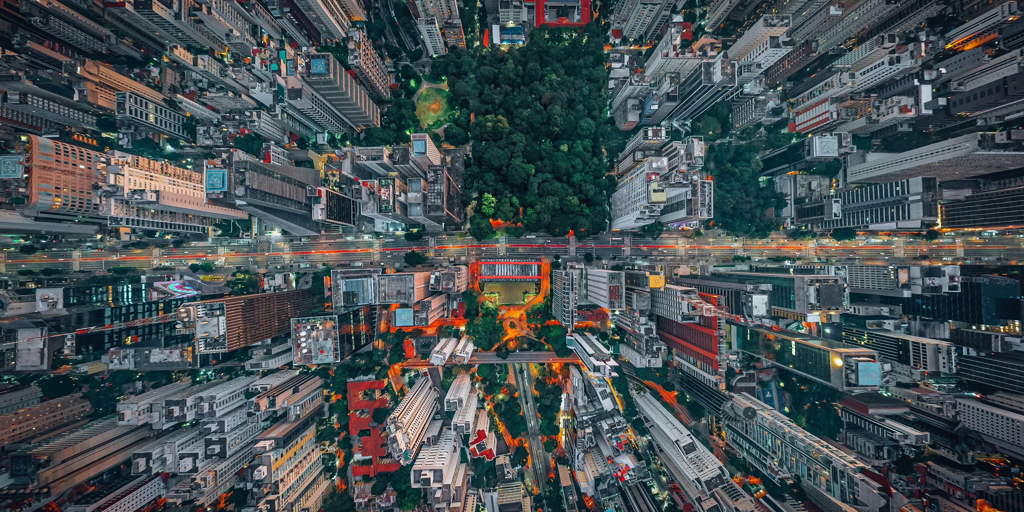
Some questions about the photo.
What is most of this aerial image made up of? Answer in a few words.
buildings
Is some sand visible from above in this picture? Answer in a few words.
No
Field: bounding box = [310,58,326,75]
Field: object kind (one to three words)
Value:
helipad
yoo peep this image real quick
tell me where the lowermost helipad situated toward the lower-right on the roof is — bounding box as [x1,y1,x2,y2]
[855,362,881,385]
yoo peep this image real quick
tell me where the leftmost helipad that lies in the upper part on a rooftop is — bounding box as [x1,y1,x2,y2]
[0,156,25,178]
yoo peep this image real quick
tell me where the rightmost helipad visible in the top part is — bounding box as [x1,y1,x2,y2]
[815,136,838,156]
